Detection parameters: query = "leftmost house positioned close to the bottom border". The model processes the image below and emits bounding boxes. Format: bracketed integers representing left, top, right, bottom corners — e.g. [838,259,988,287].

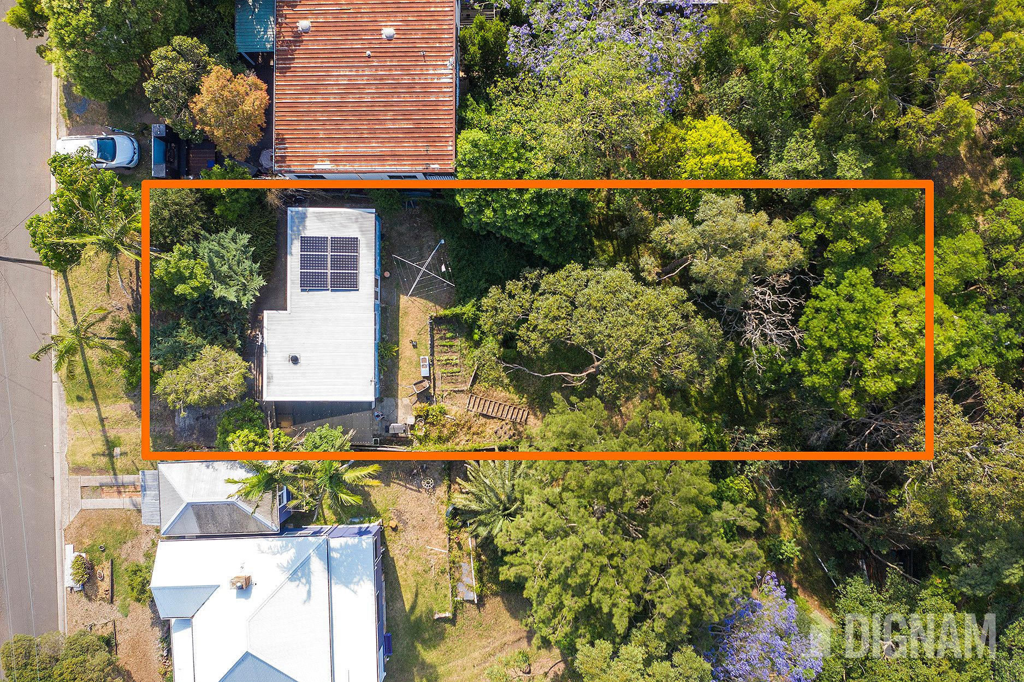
[150,520,389,682]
